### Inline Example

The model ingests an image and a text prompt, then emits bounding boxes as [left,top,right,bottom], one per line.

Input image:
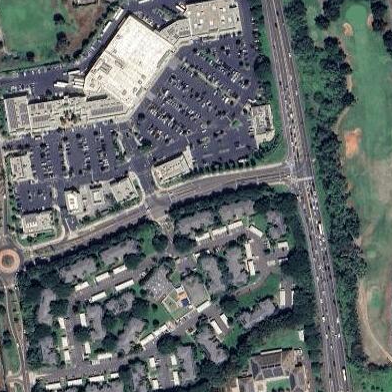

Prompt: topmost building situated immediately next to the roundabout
[22,211,53,238]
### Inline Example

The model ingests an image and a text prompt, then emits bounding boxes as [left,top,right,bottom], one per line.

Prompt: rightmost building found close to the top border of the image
[184,0,240,41]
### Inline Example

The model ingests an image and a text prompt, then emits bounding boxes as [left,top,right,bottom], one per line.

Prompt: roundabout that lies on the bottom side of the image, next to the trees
[0,240,28,282]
